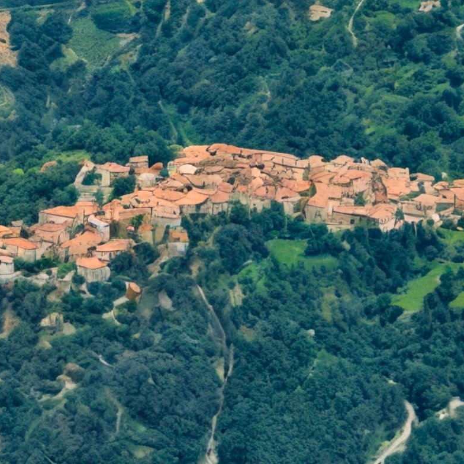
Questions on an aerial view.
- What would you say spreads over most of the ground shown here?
trees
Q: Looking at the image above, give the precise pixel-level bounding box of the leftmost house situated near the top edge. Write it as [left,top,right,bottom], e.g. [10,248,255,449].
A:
[307,1,331,23]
